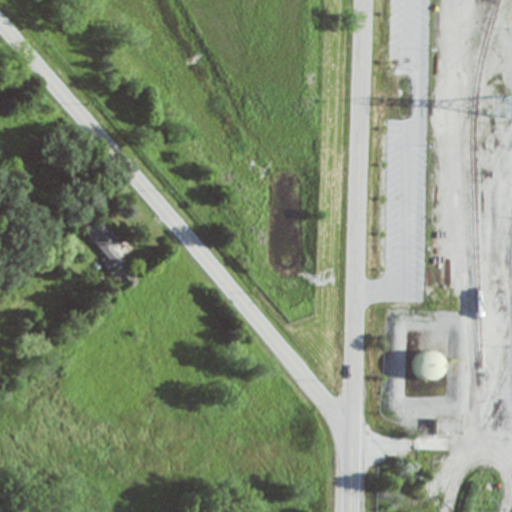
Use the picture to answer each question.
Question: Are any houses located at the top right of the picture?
No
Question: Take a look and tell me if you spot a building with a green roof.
No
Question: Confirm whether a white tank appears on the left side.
No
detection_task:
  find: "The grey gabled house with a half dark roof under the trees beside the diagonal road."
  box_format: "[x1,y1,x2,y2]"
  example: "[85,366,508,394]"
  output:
[85,218,134,264]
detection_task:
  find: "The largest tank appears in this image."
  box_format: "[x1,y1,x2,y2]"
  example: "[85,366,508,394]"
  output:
[413,350,448,382]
